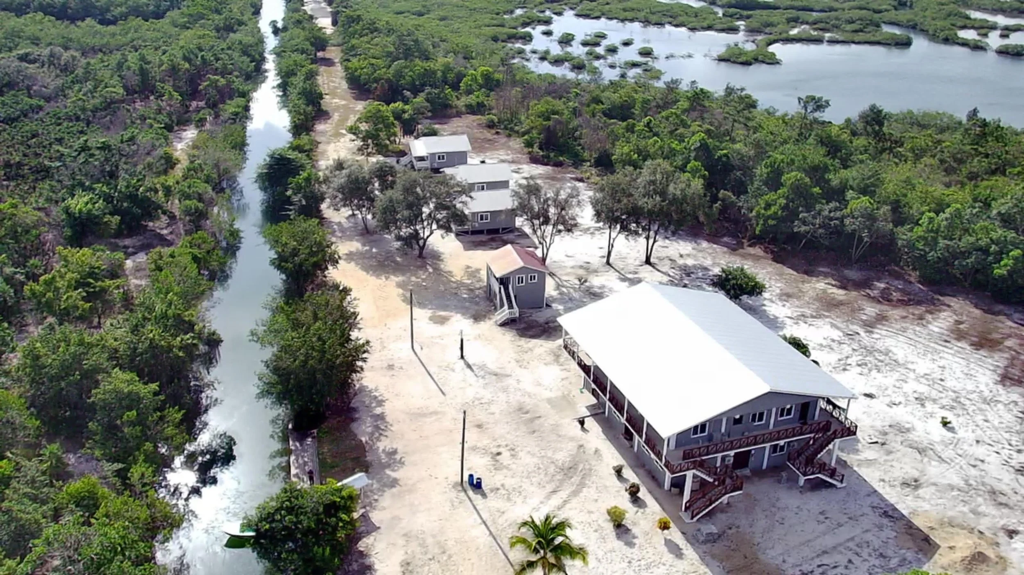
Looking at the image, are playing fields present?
No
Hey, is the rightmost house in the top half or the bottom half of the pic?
bottom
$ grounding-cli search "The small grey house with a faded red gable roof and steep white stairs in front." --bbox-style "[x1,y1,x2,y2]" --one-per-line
[485,245,549,330]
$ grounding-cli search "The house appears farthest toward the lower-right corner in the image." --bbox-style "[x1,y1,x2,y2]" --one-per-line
[560,282,857,525]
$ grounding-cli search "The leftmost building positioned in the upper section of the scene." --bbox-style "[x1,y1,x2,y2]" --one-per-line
[399,135,470,174]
